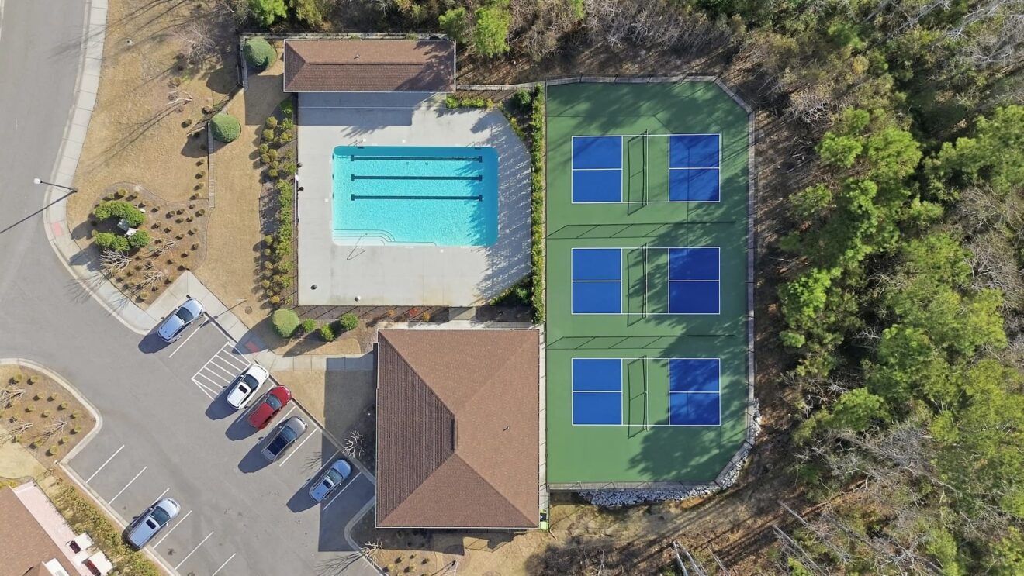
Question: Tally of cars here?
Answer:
6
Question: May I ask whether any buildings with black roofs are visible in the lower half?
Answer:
No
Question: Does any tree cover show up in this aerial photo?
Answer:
Yes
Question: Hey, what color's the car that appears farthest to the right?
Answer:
blue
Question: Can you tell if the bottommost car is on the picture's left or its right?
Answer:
left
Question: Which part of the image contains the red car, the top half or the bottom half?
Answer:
bottom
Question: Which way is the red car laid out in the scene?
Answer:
at an angle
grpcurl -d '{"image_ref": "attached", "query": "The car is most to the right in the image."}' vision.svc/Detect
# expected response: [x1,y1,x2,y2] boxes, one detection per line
[308,458,353,504]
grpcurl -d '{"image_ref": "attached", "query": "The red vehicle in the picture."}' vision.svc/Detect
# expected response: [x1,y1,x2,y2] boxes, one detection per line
[248,387,292,430]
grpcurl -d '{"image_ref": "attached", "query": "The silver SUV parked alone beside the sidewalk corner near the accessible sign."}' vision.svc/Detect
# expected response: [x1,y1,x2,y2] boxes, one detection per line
[156,297,205,344]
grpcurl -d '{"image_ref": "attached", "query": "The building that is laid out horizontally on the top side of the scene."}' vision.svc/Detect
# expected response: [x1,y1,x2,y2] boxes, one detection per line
[285,40,456,94]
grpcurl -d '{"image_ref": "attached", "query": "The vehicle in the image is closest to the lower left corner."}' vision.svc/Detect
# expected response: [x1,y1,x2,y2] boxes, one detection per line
[124,496,181,552]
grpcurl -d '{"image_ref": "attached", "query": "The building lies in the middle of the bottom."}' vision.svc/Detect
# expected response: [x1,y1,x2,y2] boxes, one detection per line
[374,329,539,528]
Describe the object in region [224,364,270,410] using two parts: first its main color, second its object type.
white car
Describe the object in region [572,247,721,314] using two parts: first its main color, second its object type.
blue sports court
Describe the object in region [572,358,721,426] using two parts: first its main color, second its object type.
blue sports court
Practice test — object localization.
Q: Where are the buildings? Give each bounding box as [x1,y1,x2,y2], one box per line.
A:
[0,481,111,576]
[285,40,456,94]
[374,329,539,528]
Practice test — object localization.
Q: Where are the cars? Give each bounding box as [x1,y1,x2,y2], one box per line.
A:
[224,364,270,410]
[124,496,181,552]
[308,458,353,504]
[262,417,308,462]
[248,387,292,430]
[156,297,205,344]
